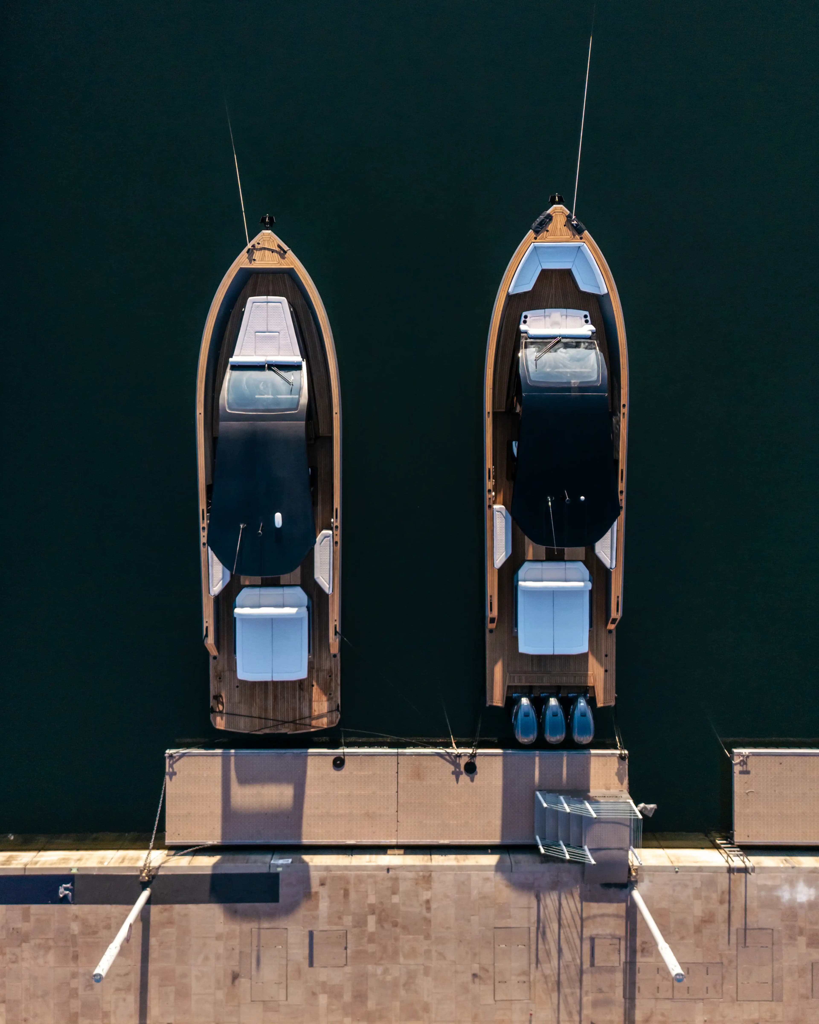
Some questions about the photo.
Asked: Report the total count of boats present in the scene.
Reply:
2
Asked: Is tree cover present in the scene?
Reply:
No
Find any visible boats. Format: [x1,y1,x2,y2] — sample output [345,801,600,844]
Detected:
[197,217,342,733]
[482,190,627,744]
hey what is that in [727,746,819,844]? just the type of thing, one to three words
pier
